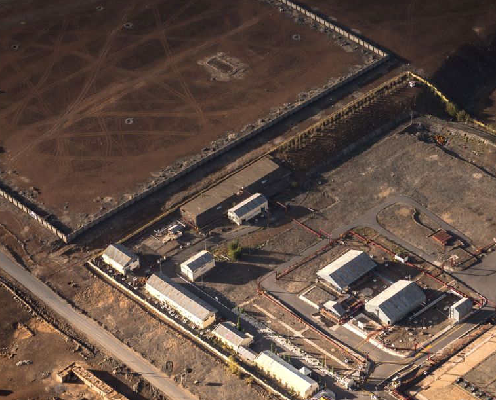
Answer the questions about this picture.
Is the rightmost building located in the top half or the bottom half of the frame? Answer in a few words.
bottom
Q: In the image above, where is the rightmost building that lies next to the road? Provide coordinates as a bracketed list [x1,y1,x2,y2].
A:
[451,299,477,320]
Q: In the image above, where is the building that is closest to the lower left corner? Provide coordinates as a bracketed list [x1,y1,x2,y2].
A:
[44,358,130,400]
